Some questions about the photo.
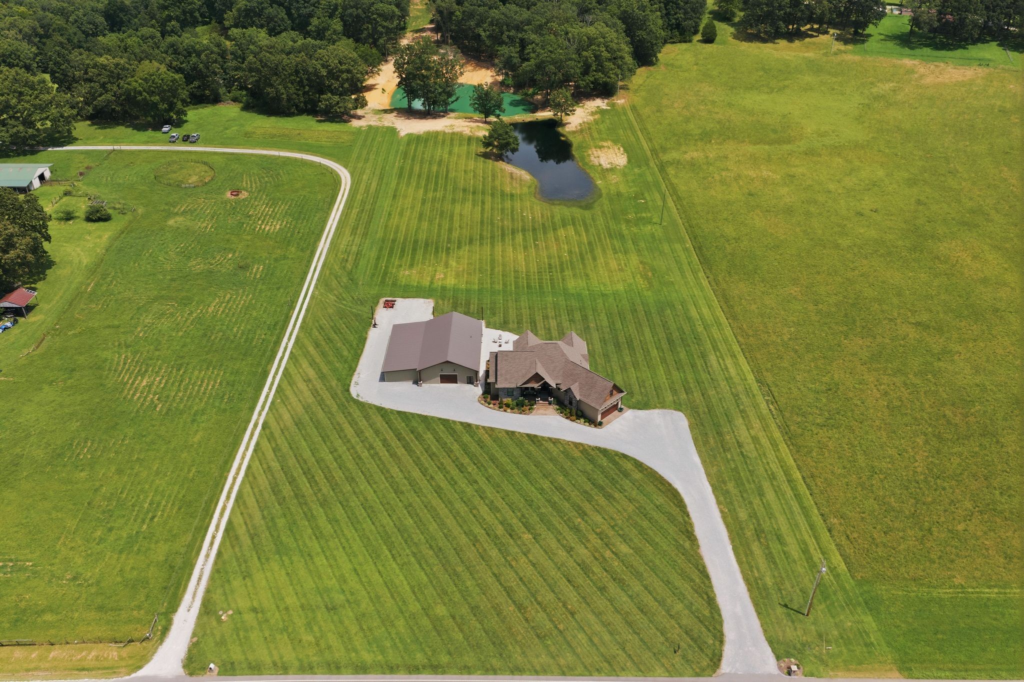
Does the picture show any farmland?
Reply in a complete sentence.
Yes, there's farmland in this view.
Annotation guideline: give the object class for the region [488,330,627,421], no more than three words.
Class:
house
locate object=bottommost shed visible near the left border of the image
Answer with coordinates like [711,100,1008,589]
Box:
[0,289,40,319]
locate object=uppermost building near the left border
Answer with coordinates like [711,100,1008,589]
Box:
[0,163,55,193]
